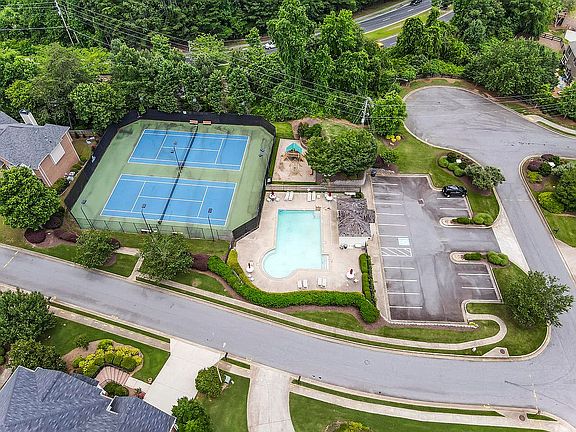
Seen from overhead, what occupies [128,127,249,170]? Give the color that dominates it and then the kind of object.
blue tennis court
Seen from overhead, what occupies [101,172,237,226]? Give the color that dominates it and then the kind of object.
blue tennis court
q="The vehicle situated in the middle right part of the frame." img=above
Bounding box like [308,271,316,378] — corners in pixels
[443,184,469,198]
